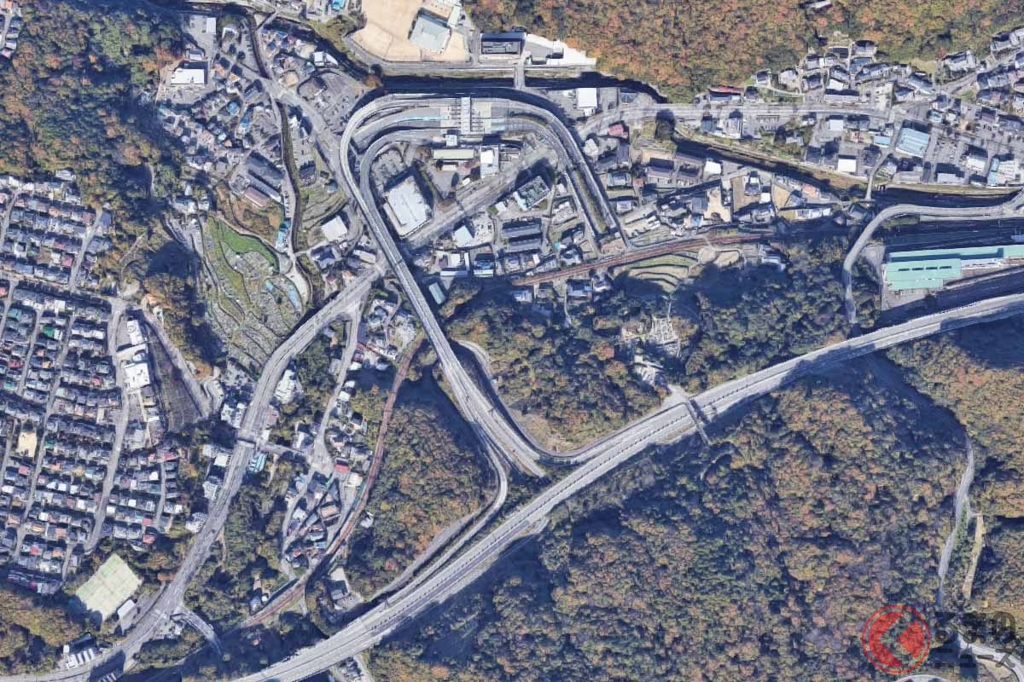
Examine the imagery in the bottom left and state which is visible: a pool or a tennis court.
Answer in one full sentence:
You can see a tennis court in the bottom left.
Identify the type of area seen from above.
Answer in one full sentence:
The picture captures a residential area.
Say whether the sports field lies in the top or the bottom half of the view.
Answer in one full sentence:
The sports field is in the top half of the image.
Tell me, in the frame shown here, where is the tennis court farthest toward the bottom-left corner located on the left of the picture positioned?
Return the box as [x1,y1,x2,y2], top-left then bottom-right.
[76,554,142,623]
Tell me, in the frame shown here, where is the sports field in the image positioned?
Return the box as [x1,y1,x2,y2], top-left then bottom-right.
[353,0,468,62]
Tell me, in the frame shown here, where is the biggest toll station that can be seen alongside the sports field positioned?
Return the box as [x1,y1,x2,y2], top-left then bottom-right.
[425,95,506,136]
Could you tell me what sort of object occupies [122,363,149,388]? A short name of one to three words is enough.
building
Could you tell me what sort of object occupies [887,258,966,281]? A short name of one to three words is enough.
shed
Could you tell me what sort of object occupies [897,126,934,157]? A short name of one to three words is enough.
building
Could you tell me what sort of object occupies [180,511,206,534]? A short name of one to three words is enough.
house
